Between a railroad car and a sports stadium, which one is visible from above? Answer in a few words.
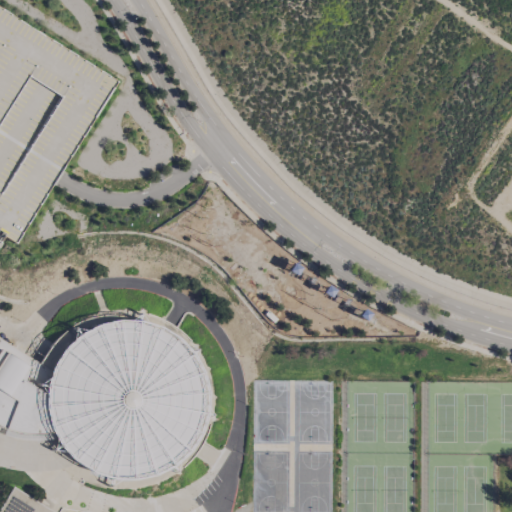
sports stadium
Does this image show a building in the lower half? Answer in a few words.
Yes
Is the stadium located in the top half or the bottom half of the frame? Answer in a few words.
bottom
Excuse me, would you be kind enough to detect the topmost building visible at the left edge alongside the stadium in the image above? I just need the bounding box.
[0,6,120,244]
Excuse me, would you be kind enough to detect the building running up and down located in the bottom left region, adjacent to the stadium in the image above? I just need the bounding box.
[0,338,48,434]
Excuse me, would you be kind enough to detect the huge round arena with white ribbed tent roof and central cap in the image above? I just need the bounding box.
[26,310,218,482]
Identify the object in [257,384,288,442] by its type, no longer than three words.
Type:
basketball court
